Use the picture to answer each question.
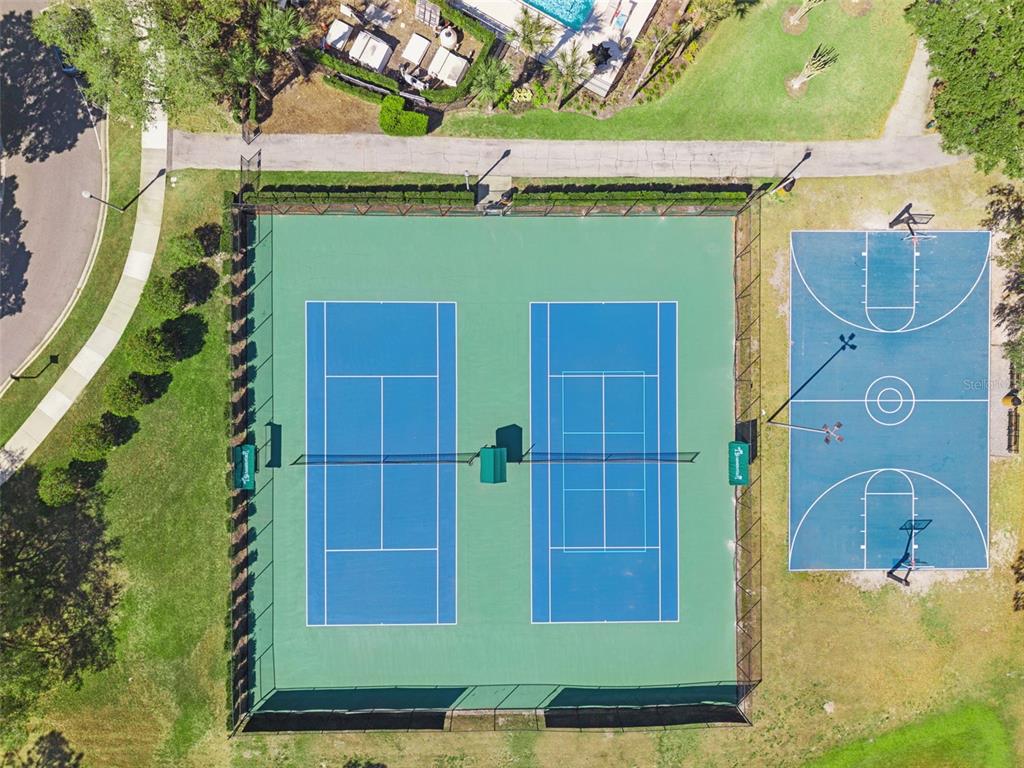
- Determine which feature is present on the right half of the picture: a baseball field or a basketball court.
basketball court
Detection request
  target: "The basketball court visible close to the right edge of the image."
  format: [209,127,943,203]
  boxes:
[789,231,991,571]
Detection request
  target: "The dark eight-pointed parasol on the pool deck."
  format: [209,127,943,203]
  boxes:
[589,43,611,65]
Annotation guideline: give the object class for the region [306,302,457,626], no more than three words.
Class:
tennis court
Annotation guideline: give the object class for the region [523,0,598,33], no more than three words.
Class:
swimming pool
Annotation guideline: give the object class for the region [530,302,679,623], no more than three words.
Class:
tennis court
